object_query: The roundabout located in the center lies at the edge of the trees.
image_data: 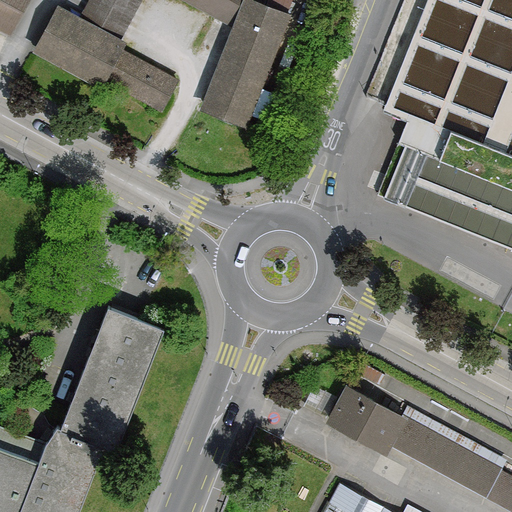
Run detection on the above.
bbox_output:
[214,200,346,333]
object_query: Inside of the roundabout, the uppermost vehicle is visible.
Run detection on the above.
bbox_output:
[235,244,249,268]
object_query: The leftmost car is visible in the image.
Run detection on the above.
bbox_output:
[30,119,54,137]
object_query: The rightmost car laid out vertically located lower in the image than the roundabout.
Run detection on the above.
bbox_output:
[224,402,238,426]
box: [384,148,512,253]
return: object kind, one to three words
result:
building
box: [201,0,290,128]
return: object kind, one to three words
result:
barn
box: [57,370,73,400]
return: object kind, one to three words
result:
vehicle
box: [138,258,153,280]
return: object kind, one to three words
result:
car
